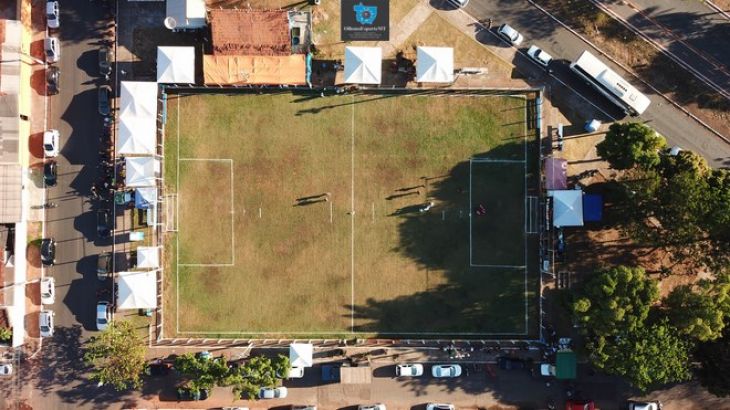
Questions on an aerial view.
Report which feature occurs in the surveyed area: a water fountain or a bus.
bus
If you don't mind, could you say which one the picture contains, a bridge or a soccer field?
soccer field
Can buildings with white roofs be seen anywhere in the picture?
Yes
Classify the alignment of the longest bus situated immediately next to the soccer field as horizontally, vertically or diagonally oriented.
diagonally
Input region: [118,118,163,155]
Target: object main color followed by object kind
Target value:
white tent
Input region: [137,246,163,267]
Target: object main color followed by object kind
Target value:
white tent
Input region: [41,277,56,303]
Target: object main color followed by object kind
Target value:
white car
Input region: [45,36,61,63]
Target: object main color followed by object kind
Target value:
white car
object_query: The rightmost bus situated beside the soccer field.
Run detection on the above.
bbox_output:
[570,51,657,119]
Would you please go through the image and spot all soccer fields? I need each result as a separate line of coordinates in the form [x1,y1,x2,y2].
[158,86,541,341]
